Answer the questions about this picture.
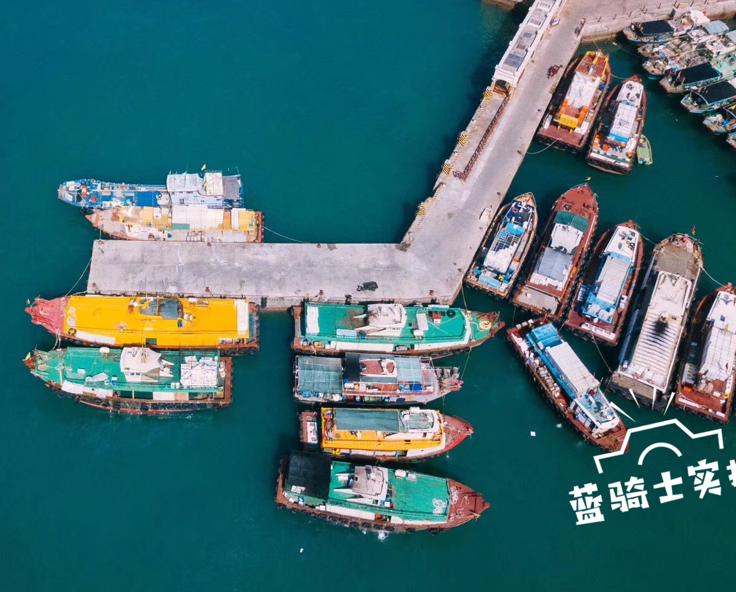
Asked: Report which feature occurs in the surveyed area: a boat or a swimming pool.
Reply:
boat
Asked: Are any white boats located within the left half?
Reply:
Yes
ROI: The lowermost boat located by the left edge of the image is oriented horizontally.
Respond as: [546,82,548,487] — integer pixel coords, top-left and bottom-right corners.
[20,338,236,411]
